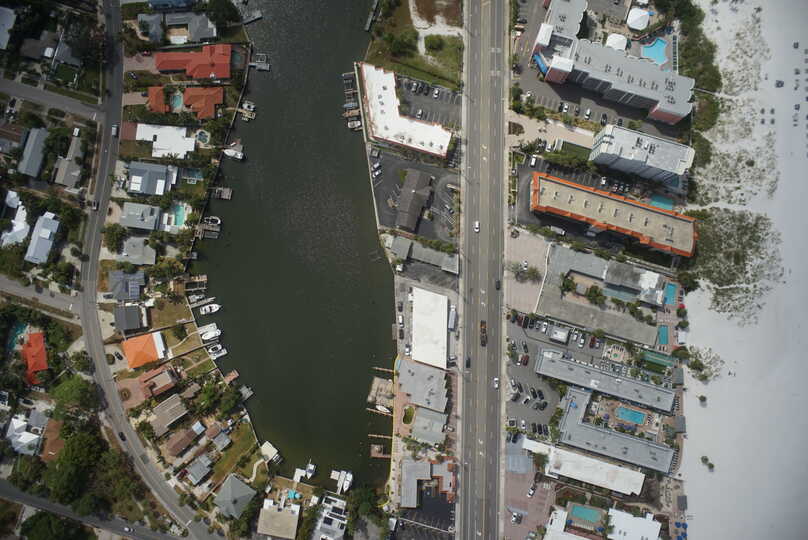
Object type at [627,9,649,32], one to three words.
tent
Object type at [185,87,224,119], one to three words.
house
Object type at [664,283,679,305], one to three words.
swimming pool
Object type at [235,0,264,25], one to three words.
pier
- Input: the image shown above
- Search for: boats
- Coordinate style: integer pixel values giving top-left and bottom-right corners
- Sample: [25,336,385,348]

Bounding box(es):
[343,110,361,116]
[224,149,245,159]
[207,344,222,354]
[188,294,204,302]
[307,461,316,478]
[200,332,220,341]
[348,120,362,128]
[377,405,391,414]
[343,470,354,493]
[198,305,220,314]
[241,101,255,110]
[204,216,221,224]
[344,103,358,109]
